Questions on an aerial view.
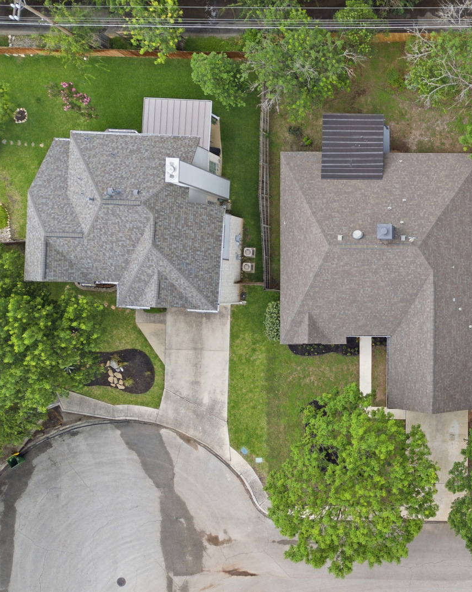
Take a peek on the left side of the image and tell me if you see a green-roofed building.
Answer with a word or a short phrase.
No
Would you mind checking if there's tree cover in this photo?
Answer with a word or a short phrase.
Yes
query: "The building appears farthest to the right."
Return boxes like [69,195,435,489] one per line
[279,151,472,414]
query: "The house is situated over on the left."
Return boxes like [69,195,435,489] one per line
[24,128,244,315]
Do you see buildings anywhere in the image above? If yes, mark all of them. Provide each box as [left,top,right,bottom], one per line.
[24,128,244,315]
[279,151,472,414]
